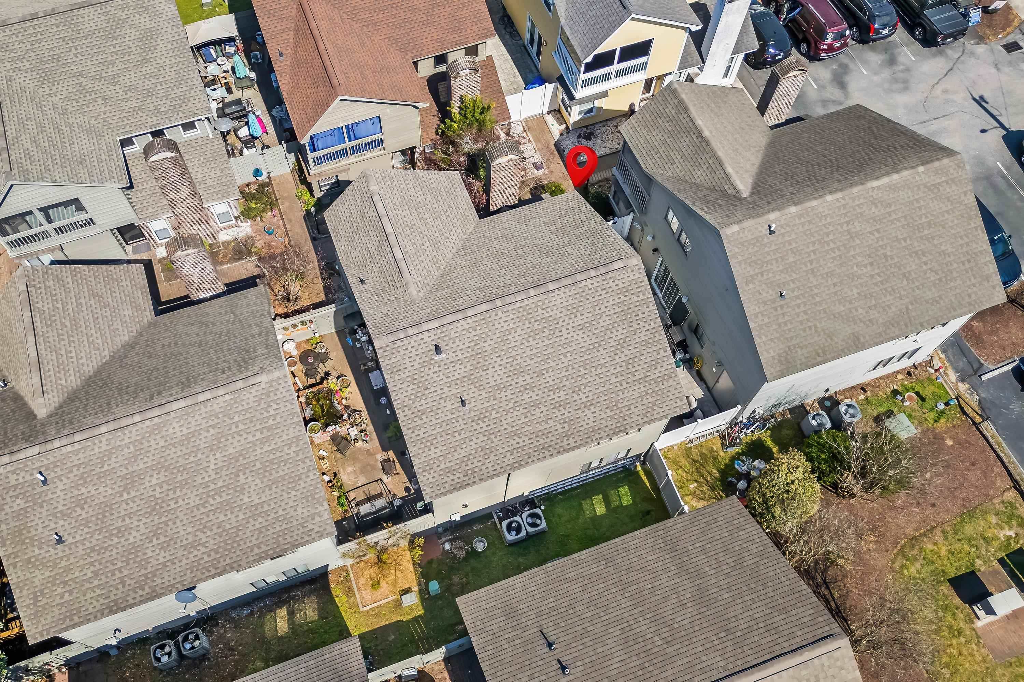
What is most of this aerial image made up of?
buildings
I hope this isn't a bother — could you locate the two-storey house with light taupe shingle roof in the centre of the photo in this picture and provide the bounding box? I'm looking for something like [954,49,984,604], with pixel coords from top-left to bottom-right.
[325,139,689,531]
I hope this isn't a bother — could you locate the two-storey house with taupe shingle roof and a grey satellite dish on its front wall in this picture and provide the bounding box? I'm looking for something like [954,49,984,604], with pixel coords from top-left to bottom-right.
[0,228,347,645]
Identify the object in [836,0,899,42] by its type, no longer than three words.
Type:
car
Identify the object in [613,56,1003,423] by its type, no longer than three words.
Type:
house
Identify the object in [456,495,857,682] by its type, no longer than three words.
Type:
house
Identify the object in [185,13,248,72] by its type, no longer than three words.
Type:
tent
